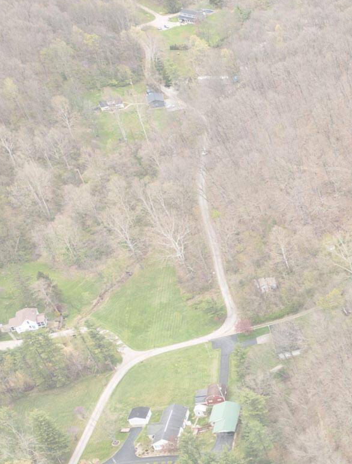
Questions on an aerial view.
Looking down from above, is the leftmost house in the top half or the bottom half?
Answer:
bottom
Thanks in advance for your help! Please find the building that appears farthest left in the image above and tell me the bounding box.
[7,302,47,333]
